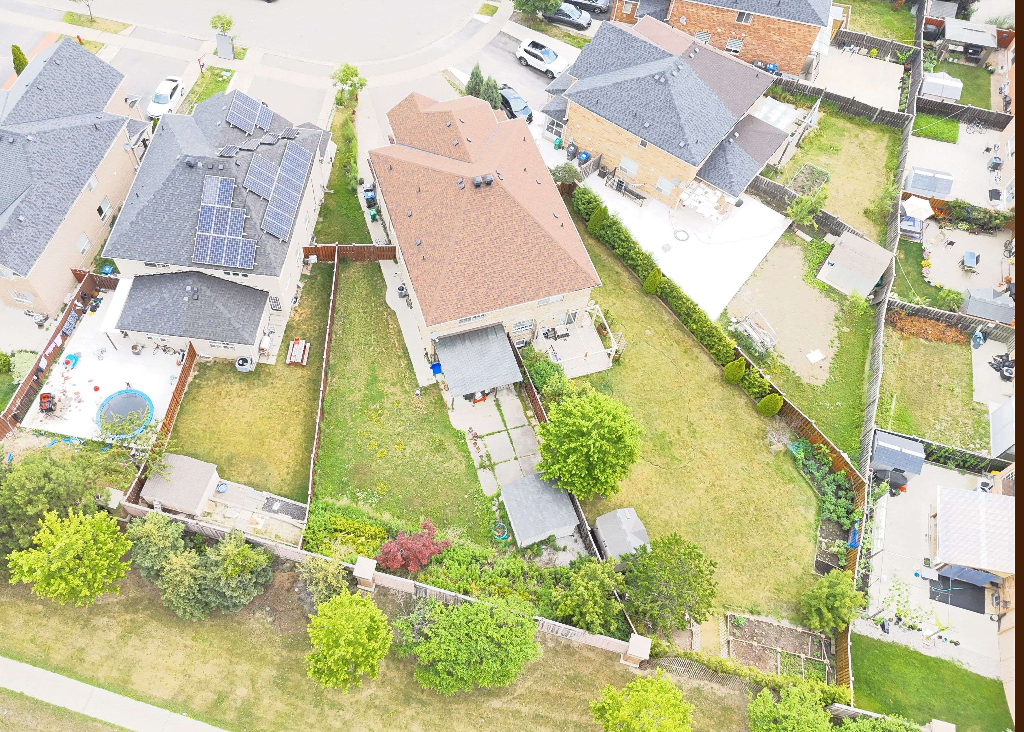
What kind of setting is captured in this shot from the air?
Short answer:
residential area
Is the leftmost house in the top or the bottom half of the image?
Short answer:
top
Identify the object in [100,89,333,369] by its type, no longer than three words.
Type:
house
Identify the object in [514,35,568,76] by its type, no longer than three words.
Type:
car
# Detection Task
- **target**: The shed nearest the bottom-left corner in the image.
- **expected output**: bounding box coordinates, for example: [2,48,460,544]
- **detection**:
[140,453,221,520]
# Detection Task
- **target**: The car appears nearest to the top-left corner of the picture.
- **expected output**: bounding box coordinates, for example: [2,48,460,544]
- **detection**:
[144,75,185,118]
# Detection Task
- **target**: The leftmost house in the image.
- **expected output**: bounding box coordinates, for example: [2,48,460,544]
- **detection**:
[0,37,153,316]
